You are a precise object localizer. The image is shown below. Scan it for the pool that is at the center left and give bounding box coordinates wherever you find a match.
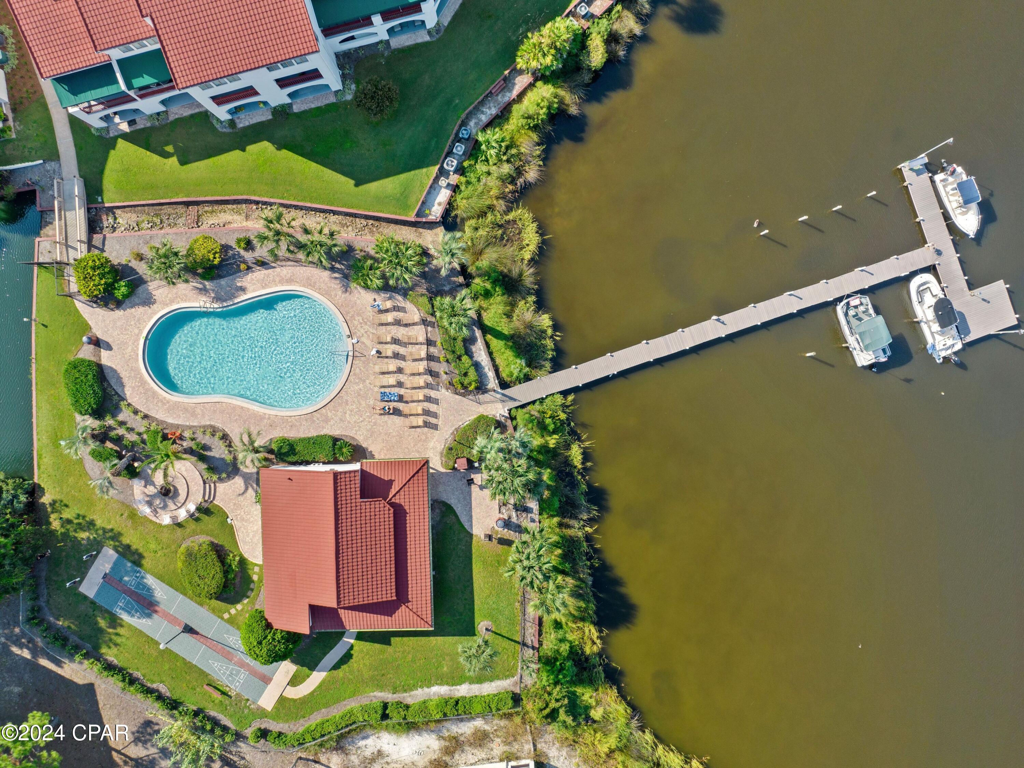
[139,285,356,416]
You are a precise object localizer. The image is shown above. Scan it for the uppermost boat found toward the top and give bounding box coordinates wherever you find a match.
[934,155,983,236]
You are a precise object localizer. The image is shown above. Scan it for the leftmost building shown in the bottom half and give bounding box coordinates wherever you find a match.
[259,456,436,636]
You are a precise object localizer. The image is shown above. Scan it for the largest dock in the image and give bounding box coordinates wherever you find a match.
[497,168,1022,412]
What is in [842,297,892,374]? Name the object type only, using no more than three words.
boat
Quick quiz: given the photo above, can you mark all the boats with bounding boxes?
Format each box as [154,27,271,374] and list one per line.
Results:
[914,273,966,374]
[934,155,983,236]
[842,297,892,374]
